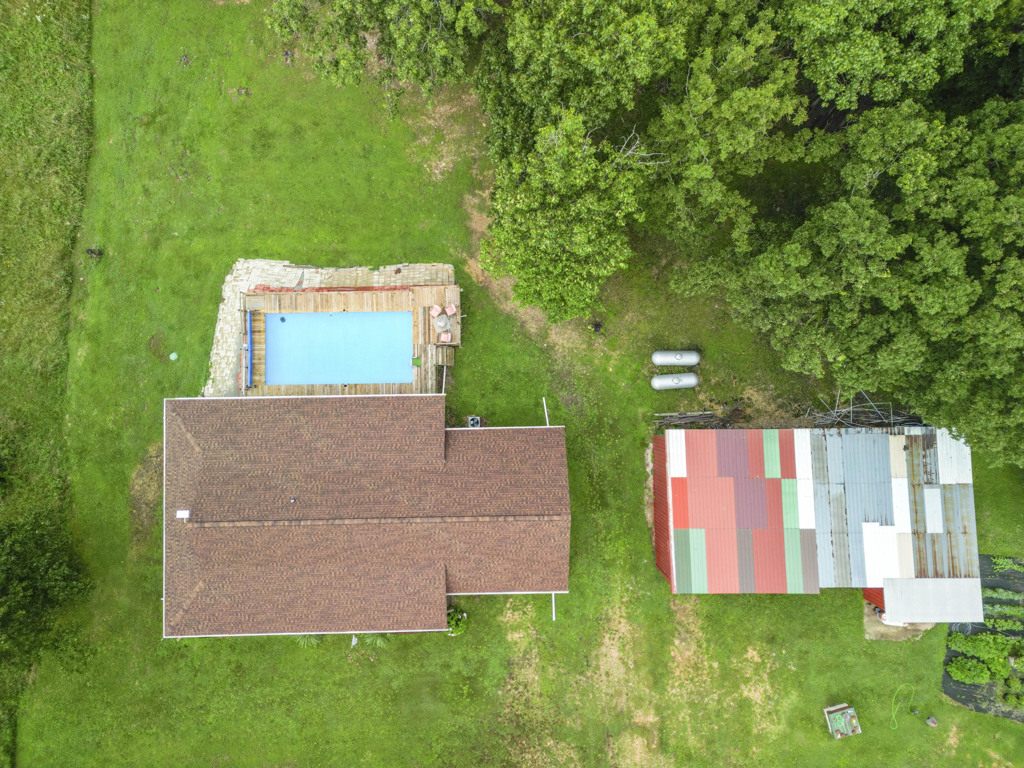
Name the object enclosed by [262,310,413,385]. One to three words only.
swimming pool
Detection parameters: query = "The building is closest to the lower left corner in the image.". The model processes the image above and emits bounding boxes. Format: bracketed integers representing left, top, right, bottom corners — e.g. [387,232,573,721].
[162,392,570,639]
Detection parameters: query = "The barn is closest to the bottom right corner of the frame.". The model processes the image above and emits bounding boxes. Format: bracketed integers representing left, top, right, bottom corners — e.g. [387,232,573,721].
[652,428,983,624]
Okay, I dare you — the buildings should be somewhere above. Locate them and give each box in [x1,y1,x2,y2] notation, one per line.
[162,392,570,639]
[652,428,983,624]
